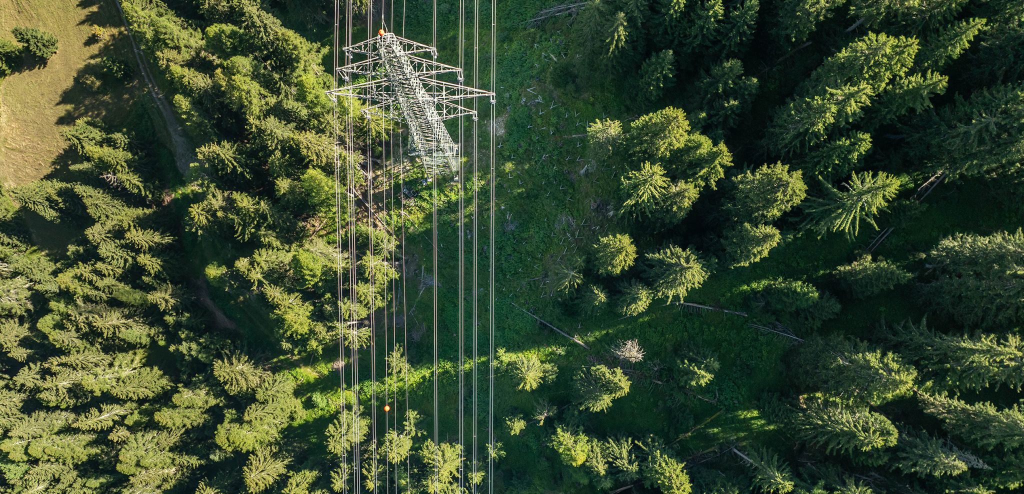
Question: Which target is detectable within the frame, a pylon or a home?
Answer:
pylon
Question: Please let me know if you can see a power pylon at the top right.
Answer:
No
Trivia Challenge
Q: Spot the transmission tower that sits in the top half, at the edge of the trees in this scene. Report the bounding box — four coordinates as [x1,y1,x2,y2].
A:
[325,15,500,183]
